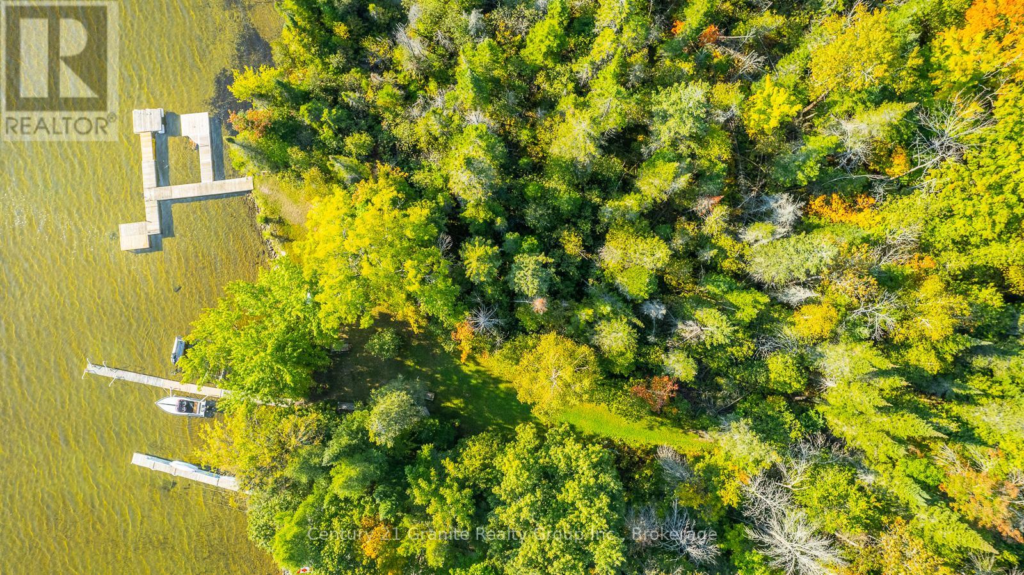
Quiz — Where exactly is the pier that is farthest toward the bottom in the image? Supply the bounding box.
[132,453,249,493]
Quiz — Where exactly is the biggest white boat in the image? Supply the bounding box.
[153,398,214,418]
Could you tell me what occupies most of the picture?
trees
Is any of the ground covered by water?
Yes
